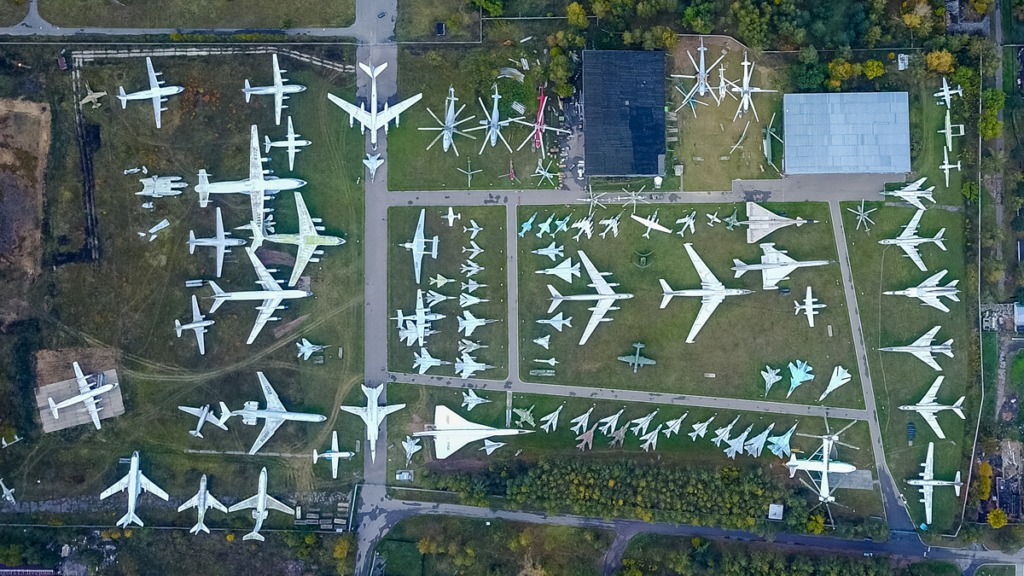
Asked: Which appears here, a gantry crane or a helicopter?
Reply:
helicopter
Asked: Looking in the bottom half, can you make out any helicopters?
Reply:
Yes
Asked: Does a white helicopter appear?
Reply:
Yes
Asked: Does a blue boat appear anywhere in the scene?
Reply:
No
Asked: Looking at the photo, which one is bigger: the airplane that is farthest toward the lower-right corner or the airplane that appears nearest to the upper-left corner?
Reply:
the airplane that is farthest toward the lower-right corner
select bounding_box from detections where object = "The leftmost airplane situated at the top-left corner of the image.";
[78,86,108,110]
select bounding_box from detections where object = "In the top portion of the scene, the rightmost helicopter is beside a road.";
[847,199,877,238]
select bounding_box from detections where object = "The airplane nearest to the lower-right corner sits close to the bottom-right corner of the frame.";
[905,442,966,524]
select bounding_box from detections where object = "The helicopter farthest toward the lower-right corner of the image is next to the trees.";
[786,412,859,528]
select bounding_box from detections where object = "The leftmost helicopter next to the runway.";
[418,80,476,156]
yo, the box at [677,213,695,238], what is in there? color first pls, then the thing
white airplane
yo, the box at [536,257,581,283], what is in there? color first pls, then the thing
white airplane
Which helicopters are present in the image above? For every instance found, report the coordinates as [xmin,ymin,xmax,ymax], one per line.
[457,155,482,187]
[498,158,521,183]
[786,412,859,528]
[762,113,785,177]
[463,77,525,154]
[709,59,740,104]
[577,185,614,215]
[613,186,650,213]
[418,80,476,156]
[532,157,554,185]
[508,85,571,158]
[847,199,877,238]
[724,44,778,122]
[671,36,725,106]
[730,121,749,154]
